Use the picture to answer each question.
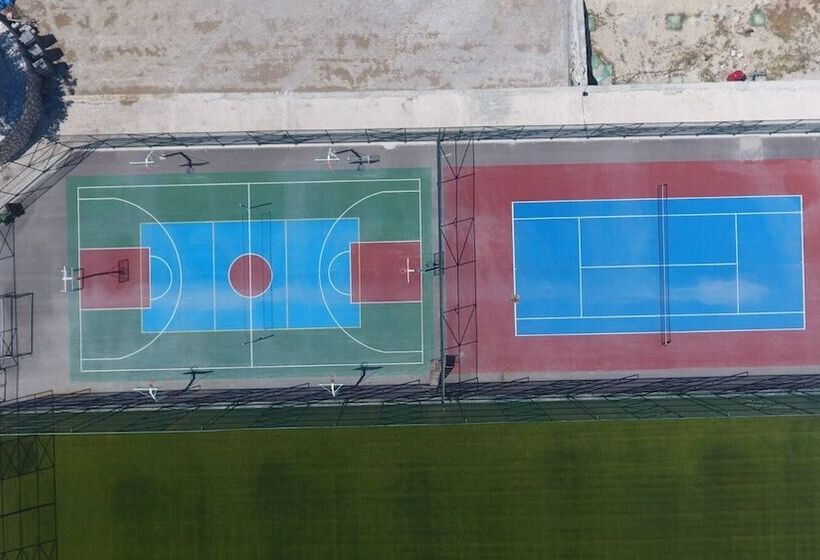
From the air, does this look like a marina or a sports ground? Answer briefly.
sports ground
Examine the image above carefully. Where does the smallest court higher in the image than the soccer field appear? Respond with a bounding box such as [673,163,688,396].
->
[139,217,361,333]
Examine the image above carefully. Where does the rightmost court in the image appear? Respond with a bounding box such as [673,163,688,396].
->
[445,158,820,376]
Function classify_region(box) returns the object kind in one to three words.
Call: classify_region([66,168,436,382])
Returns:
basketball court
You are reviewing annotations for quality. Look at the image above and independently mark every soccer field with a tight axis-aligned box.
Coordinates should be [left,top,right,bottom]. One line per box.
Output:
[0,397,820,560]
